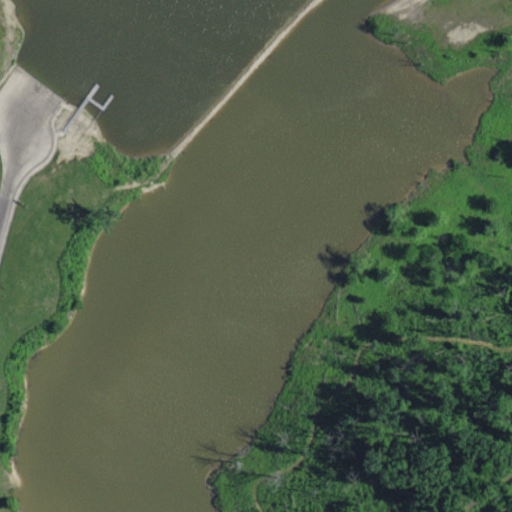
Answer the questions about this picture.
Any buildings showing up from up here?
No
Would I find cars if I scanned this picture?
No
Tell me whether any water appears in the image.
Yes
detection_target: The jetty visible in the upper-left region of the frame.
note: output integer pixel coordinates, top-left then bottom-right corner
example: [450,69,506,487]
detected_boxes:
[61,84,114,138]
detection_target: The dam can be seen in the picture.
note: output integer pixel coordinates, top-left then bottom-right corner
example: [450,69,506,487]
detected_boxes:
[160,0,330,170]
